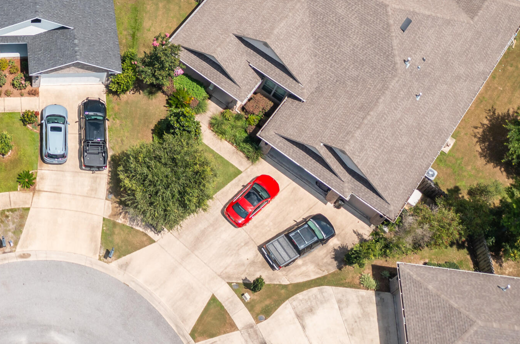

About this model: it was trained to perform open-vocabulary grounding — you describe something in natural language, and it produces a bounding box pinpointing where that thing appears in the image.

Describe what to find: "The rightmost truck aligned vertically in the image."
[80,93,111,173]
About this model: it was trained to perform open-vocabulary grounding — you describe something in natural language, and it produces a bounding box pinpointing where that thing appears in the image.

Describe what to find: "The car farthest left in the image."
[40,104,72,165]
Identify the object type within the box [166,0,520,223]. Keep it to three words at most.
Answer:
house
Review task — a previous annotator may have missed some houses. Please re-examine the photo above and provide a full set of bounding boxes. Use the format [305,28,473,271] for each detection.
[0,0,122,86]
[166,0,520,223]
[391,260,520,344]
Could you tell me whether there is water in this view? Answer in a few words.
No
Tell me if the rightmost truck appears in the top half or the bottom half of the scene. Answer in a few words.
bottom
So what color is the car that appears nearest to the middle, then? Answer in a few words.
red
